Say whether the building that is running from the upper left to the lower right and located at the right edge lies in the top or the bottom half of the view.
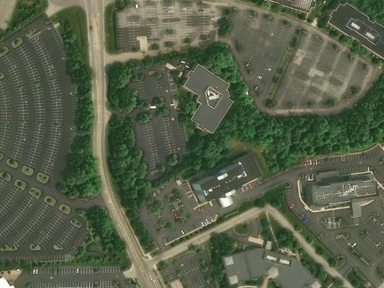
top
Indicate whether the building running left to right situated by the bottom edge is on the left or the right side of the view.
right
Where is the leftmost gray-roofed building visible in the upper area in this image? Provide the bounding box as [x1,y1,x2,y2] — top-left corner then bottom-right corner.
[179,64,234,133]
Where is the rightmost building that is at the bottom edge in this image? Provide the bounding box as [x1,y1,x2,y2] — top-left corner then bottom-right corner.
[220,241,322,288]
